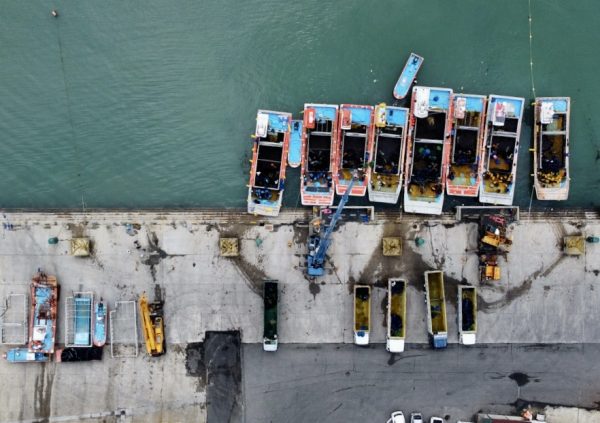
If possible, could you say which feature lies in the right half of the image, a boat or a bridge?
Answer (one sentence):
It is a boat that can be seen in the right half of the image.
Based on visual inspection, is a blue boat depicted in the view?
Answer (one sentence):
Yes, the image includes a blue boat.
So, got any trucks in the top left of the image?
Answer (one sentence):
No, no truck appears in the top left of the image.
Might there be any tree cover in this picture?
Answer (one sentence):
No, tree cover can't be seen anywhere here.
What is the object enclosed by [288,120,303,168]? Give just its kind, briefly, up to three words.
boat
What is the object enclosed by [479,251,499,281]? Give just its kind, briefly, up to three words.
work vehicle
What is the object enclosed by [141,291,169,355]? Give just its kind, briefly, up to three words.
crane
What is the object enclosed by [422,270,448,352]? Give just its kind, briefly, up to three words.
truck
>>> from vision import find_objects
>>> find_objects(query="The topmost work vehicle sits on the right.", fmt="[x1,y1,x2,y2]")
[473,228,514,250]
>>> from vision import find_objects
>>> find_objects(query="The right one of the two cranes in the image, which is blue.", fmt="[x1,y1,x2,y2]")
[299,178,356,279]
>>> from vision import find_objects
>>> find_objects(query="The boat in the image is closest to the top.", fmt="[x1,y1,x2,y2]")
[396,53,424,100]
